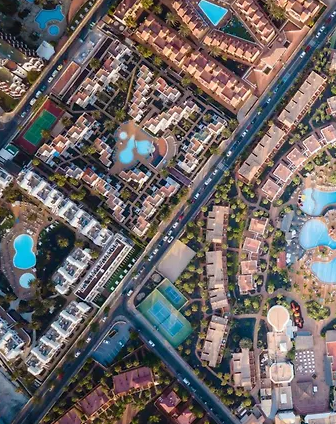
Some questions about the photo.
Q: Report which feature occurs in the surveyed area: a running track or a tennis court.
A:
tennis court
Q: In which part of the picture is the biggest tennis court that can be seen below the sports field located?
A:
bottom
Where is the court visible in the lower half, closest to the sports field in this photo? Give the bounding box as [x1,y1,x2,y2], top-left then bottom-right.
[156,278,188,313]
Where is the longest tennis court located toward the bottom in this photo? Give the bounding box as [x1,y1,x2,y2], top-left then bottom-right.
[135,290,192,348]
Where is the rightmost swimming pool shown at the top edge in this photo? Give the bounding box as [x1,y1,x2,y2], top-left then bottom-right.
[198,0,228,26]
